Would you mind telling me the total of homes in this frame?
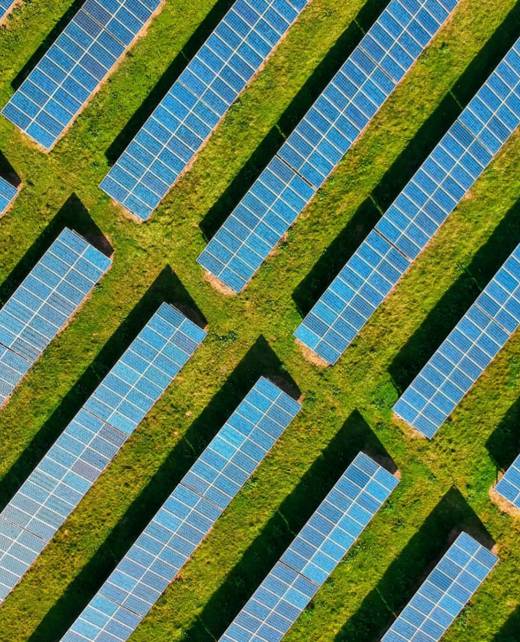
0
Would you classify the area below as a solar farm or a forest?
solar farm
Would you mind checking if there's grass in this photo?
Yes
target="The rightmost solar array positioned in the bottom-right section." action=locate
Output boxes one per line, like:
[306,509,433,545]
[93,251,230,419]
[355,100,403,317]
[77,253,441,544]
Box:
[496,456,520,507]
